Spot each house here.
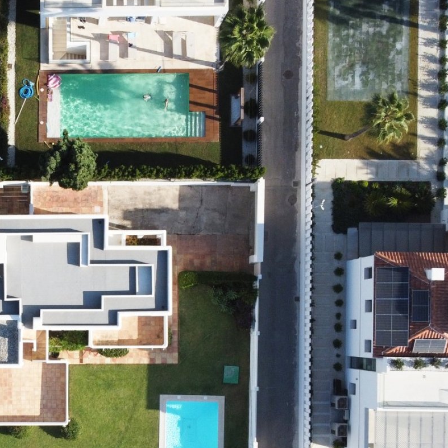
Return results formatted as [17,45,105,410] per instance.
[336,223,448,448]
[0,214,172,425]
[41,0,230,26]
